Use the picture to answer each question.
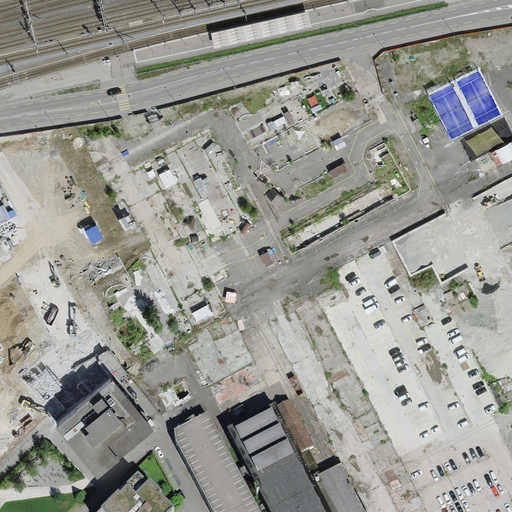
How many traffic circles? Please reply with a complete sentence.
The photo contains no traffic circles.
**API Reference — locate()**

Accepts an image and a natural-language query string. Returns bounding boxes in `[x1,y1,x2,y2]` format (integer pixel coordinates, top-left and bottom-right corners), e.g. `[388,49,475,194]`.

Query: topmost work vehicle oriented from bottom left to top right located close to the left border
[12,340,34,364]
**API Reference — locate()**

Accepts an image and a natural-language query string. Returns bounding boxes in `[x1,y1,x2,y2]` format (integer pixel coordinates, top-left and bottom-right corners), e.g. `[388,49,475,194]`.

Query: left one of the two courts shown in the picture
[428,84,476,140]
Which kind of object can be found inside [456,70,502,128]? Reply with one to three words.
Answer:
sports court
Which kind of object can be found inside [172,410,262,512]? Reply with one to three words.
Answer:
building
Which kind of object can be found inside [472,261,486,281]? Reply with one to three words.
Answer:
vehicle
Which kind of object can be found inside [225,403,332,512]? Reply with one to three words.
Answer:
building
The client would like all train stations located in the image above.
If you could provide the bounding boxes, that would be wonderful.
[134,0,420,62]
